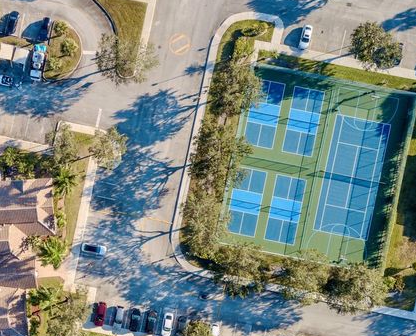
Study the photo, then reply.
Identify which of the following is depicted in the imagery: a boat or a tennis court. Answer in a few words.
tennis court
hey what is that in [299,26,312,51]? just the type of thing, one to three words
vehicle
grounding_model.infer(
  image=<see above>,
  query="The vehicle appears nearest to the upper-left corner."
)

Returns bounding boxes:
[7,12,21,37]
